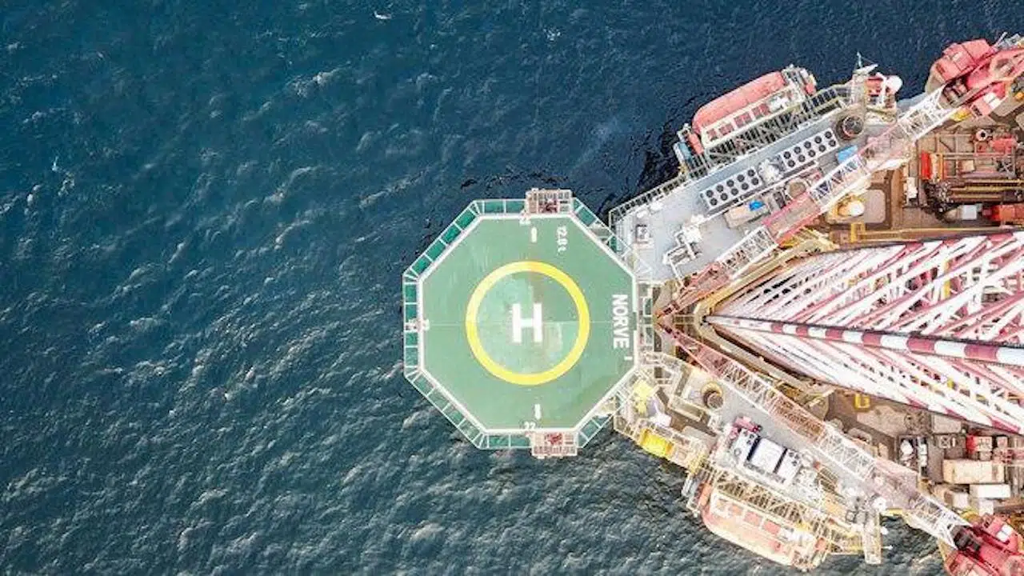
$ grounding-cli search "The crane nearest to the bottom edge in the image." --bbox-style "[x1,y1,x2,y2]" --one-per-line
[658,317,1024,576]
